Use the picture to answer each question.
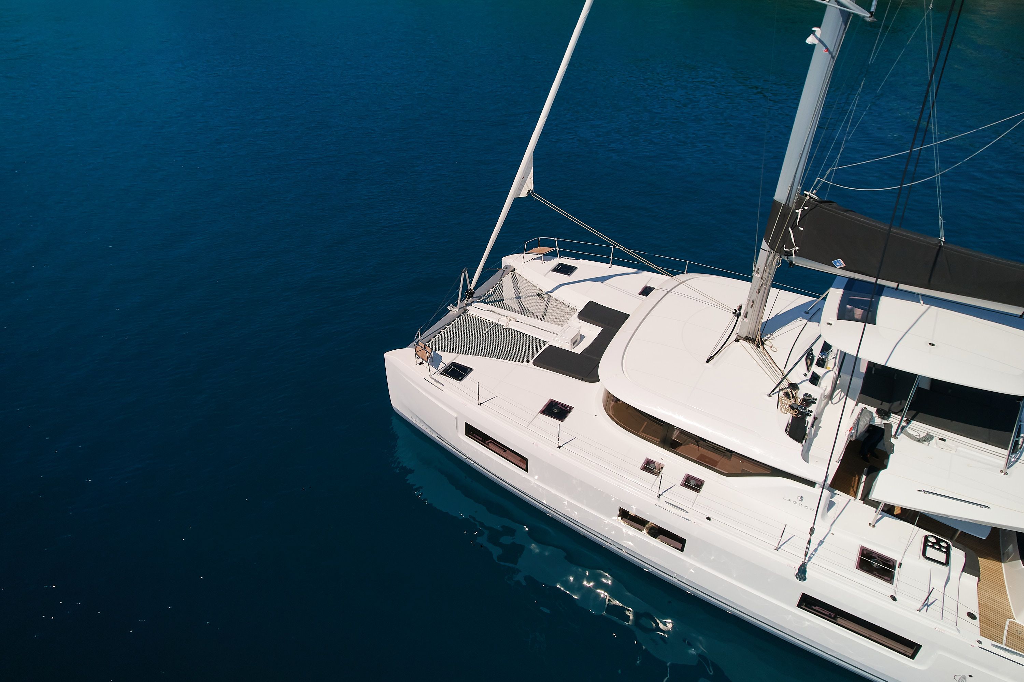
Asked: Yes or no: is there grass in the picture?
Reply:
No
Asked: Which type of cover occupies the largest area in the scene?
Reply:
water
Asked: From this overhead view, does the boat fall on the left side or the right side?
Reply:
right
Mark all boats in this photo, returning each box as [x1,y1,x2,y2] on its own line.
[383,0,1024,682]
